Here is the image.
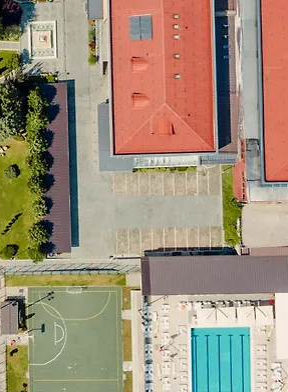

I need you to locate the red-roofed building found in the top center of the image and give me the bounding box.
[103,0,218,156]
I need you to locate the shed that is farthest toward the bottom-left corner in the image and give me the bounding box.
[1,300,18,335]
